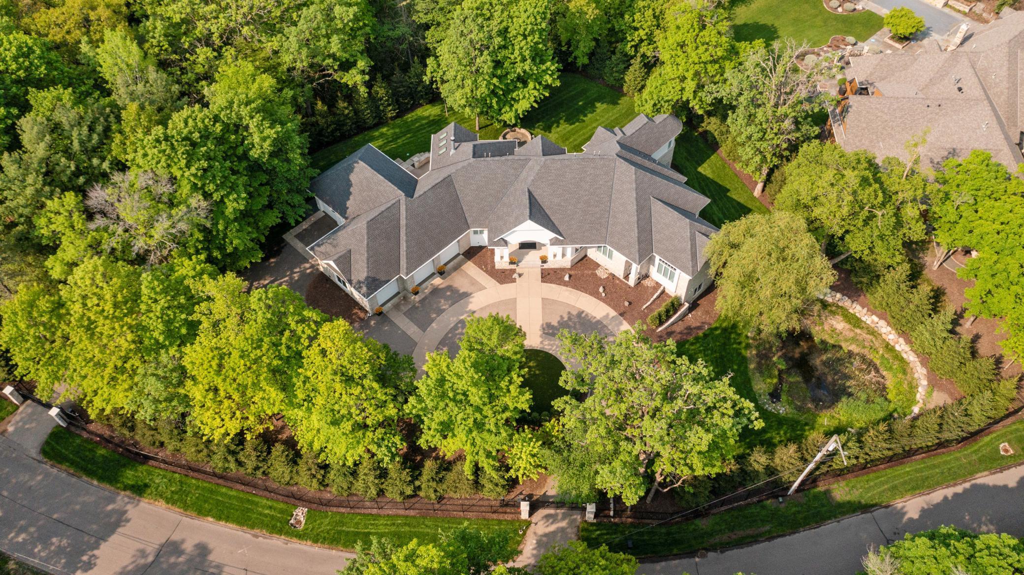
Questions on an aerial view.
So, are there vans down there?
No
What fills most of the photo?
trees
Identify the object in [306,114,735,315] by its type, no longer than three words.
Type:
house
